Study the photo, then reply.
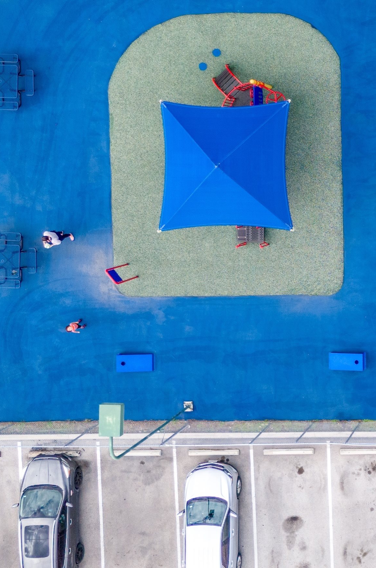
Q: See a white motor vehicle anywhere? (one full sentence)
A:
Yes, a white motor vehicle appears in the view.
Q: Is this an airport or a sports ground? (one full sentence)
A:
This image shows a sports ground.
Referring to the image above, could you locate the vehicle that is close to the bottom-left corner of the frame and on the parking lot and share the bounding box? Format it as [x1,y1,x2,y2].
[14,452,89,568]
